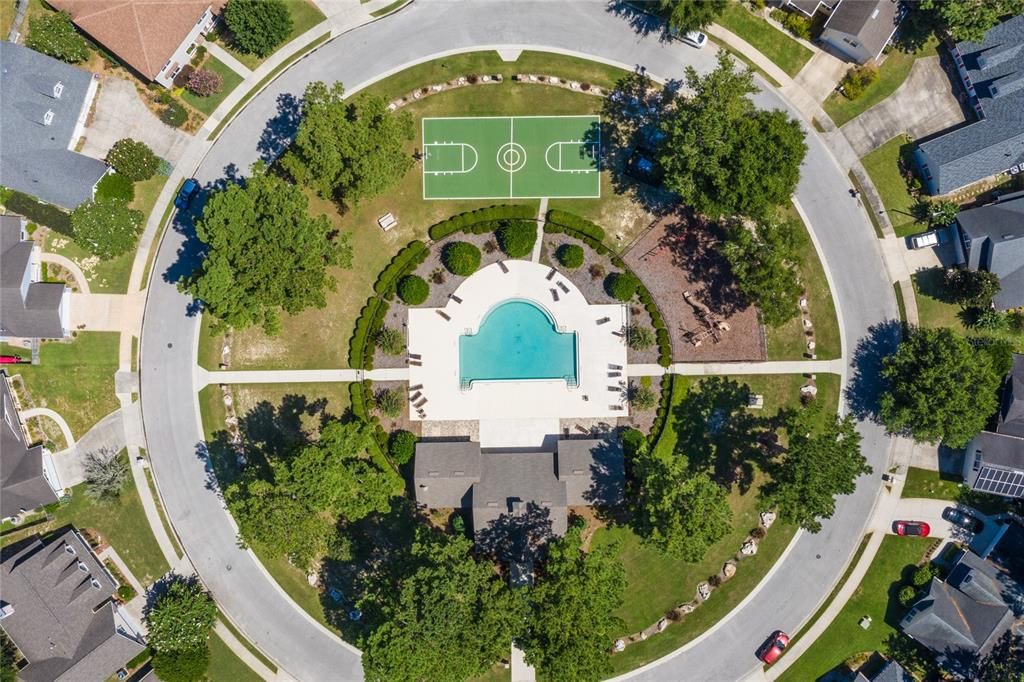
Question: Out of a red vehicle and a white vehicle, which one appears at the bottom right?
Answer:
red vehicle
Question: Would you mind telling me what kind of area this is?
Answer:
residential area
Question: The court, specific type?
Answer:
basketball court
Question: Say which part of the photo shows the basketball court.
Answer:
top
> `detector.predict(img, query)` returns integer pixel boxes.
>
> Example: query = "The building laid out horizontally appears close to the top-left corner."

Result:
[49,0,228,85]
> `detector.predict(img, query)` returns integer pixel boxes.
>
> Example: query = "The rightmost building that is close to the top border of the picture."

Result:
[912,15,1024,195]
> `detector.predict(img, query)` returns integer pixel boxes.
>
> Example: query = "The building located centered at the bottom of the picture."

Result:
[413,440,626,552]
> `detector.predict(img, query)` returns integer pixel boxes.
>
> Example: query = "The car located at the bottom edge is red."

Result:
[759,631,791,665]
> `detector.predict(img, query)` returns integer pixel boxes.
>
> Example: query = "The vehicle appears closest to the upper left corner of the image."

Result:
[173,177,201,212]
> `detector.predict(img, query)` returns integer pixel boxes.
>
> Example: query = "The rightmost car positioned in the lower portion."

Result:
[941,505,984,534]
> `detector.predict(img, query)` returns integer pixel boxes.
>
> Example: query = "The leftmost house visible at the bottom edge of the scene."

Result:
[0,530,148,682]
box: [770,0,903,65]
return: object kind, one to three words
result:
house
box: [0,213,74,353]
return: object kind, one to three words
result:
house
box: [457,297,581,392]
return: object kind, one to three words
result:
swimming pool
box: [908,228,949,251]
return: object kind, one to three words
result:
car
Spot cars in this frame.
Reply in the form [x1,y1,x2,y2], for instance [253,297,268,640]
[173,177,201,212]
[672,29,711,51]
[895,519,931,538]
[759,631,791,665]
[941,505,984,534]
[908,228,949,251]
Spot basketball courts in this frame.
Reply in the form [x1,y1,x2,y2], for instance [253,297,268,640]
[422,115,601,200]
